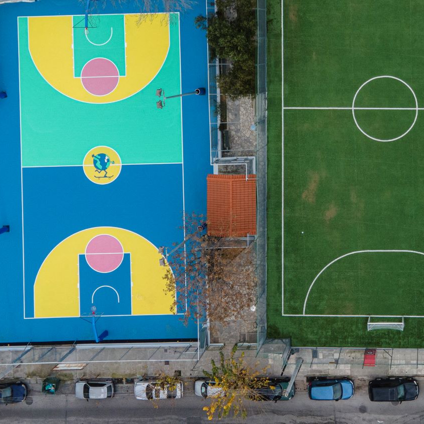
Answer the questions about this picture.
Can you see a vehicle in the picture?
Yes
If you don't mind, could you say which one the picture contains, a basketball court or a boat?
basketball court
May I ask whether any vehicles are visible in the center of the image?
No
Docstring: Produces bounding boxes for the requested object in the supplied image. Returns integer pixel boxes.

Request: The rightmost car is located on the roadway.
[367,379,418,406]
